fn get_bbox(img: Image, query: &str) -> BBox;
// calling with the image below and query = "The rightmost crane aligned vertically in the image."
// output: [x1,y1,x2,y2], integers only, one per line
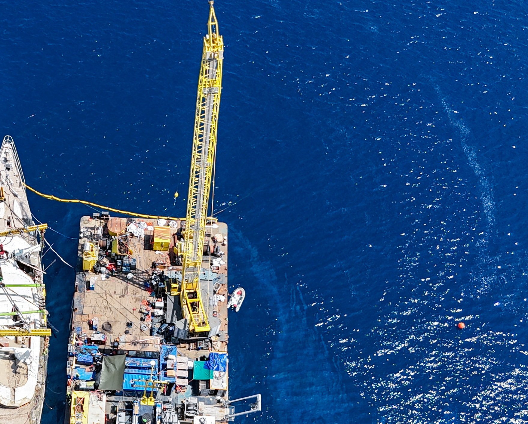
[165,0,222,342]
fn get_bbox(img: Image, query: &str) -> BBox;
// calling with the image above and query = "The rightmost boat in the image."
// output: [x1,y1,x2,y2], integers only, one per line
[227,287,246,311]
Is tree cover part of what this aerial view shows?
No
